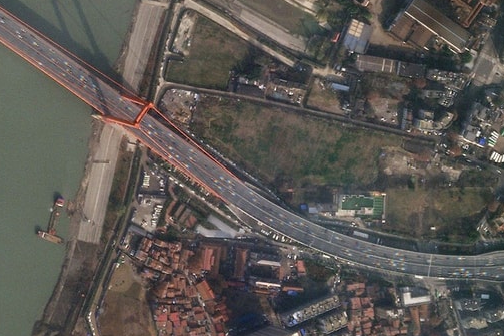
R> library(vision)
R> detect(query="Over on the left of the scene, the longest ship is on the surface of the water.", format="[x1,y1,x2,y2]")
[38,229,64,244]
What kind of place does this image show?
port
